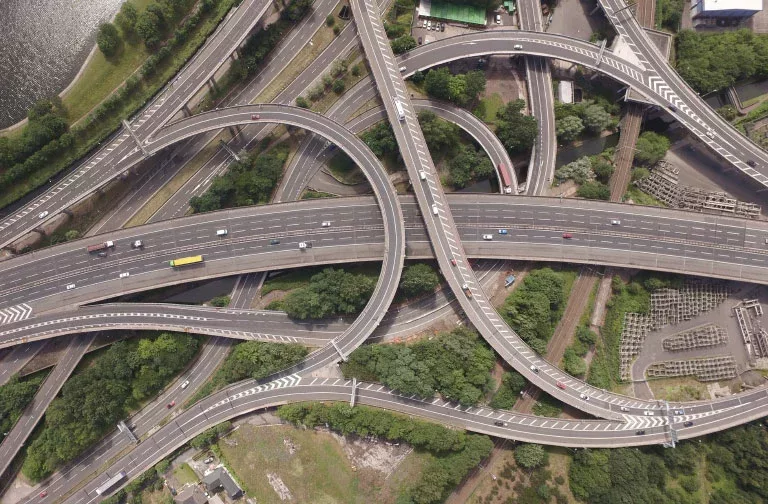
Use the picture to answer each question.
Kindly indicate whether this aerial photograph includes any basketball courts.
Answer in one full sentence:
No, there is no basketball court in the image.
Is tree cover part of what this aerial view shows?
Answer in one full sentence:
Yes, there's tree cover in this view.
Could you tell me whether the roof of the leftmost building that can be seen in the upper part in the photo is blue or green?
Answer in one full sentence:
The roof of the leftmost building that can be seen in the upper part is green.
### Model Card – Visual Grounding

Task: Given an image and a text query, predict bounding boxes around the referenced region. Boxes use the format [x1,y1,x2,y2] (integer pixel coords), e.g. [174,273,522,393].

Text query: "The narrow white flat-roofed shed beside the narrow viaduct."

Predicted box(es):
[556,80,573,104]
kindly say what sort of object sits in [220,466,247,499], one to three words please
house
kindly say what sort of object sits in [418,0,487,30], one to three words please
building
